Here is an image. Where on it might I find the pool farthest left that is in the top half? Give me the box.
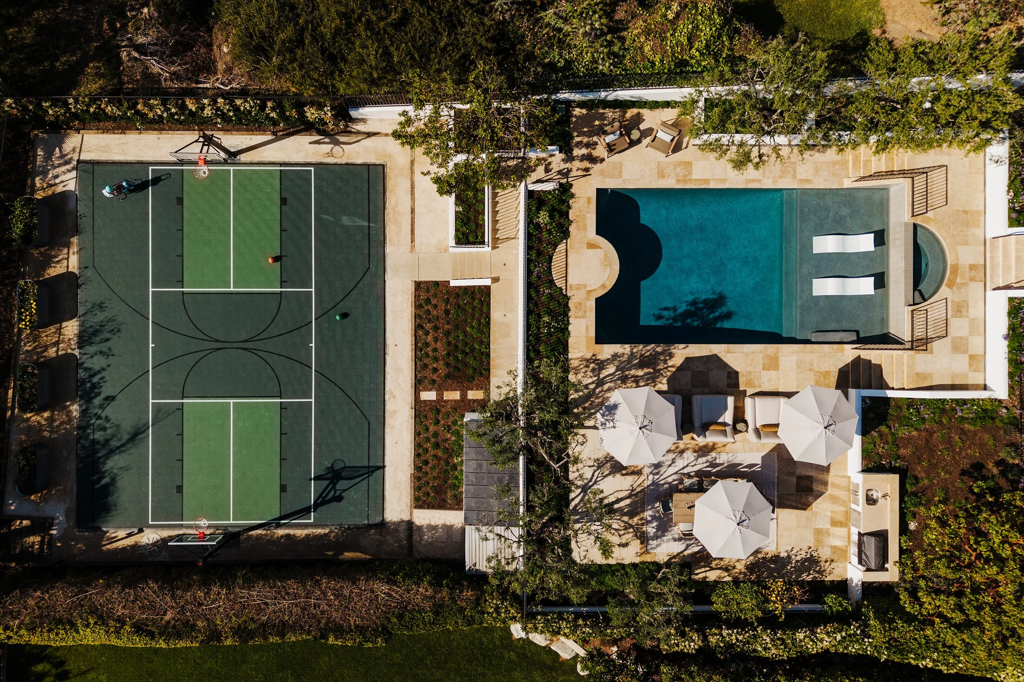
[596,188,890,344]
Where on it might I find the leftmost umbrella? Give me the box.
[597,386,677,466]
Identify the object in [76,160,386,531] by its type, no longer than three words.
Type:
basketball court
